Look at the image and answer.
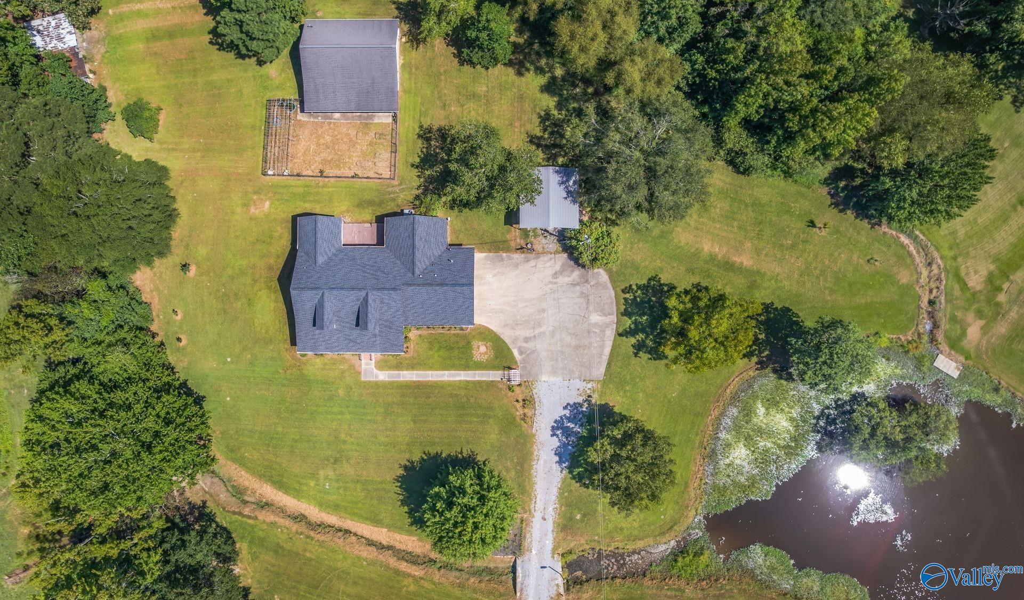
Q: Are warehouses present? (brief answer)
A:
No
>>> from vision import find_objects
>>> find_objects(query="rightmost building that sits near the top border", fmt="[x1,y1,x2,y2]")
[299,17,400,117]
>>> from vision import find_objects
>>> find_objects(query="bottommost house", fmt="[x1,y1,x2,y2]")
[290,215,475,354]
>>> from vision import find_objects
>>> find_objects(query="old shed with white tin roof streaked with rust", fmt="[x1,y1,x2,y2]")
[24,15,91,62]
